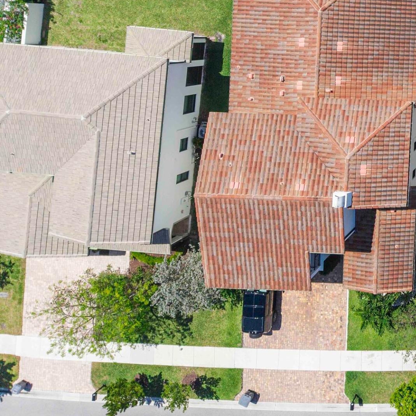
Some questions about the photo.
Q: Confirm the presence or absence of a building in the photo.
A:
Yes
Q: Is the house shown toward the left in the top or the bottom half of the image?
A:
top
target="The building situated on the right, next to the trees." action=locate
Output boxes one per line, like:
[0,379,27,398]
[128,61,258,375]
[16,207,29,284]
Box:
[192,0,416,294]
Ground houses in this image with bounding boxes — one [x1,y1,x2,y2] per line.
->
[192,0,416,294]
[0,24,209,258]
